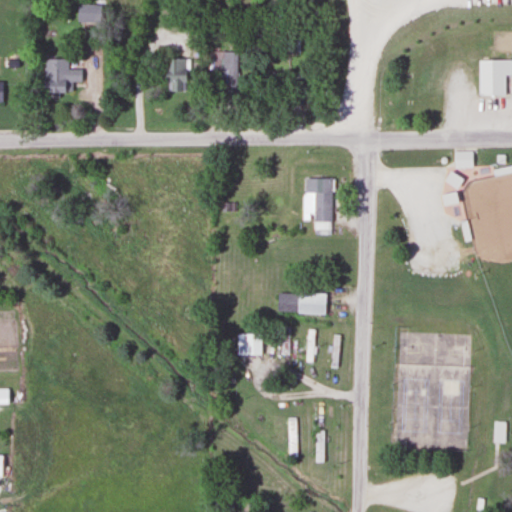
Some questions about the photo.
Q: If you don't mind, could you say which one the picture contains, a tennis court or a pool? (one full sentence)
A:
The one in the frame is a tennis court.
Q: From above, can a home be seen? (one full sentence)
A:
Yes, you can see a home in this photo.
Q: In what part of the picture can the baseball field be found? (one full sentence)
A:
The baseball field appears toward the right of the photo.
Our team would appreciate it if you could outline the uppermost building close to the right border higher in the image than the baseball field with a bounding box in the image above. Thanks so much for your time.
[480,60,512,99]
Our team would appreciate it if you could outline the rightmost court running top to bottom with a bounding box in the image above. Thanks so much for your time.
[430,366,470,448]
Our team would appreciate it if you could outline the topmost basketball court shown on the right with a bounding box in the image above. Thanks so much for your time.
[397,333,472,366]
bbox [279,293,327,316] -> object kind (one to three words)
house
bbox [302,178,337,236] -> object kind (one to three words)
house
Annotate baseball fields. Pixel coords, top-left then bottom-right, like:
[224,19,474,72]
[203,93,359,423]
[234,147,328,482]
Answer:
[465,174,512,262]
